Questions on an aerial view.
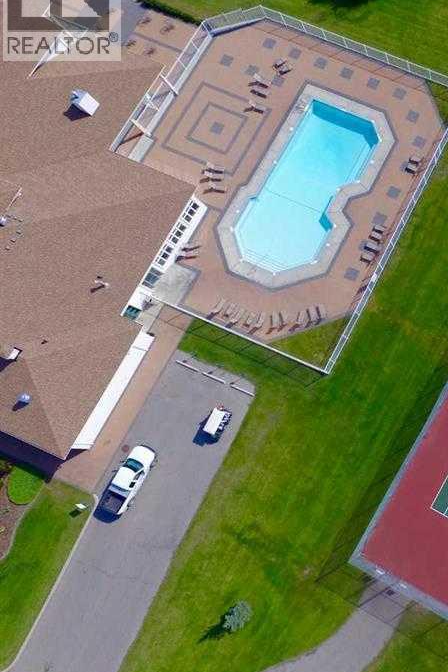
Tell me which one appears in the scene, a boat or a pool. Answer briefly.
pool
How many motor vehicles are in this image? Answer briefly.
2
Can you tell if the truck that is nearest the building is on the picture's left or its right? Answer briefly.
left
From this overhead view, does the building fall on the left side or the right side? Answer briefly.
left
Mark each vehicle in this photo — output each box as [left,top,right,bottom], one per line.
[203,405,235,436]
[92,444,159,518]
